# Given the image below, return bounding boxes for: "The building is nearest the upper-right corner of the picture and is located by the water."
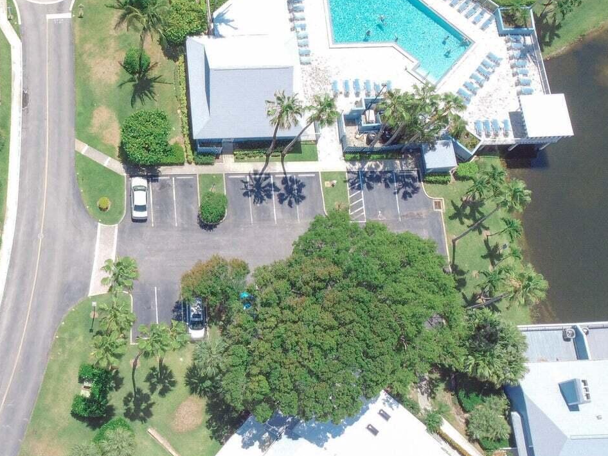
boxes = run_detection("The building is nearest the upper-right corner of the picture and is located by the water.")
[513,94,575,144]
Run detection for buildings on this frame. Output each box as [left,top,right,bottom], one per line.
[493,321,608,456]
[218,394,454,456]
[186,35,305,155]
[513,94,575,144]
[417,139,457,174]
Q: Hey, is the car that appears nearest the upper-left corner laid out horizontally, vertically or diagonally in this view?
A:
vertically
